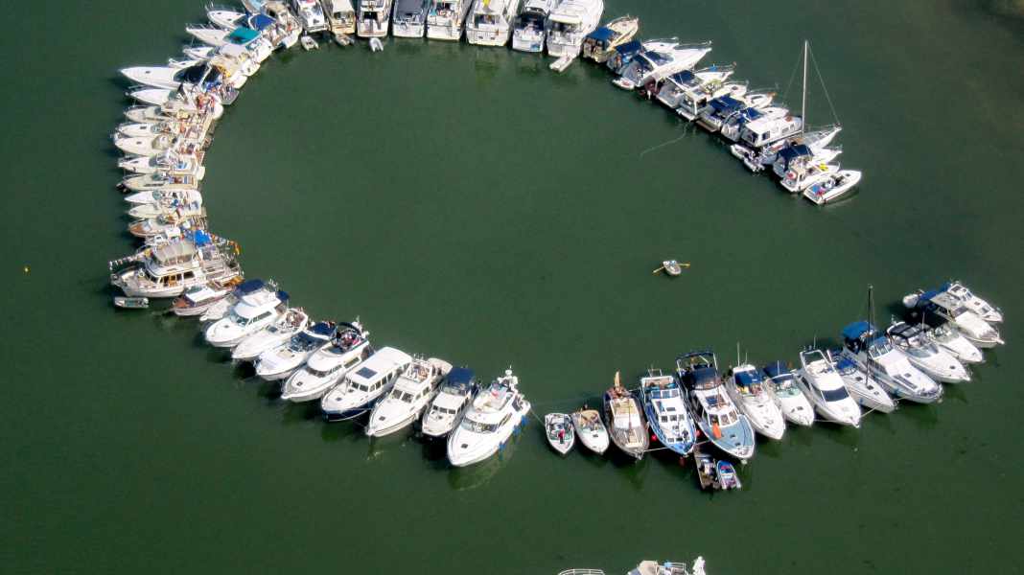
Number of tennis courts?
none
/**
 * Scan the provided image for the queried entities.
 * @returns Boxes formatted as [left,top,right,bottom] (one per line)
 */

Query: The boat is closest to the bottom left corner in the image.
[114,295,151,309]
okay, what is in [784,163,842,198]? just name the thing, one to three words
boat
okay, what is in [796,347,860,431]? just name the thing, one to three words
boat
